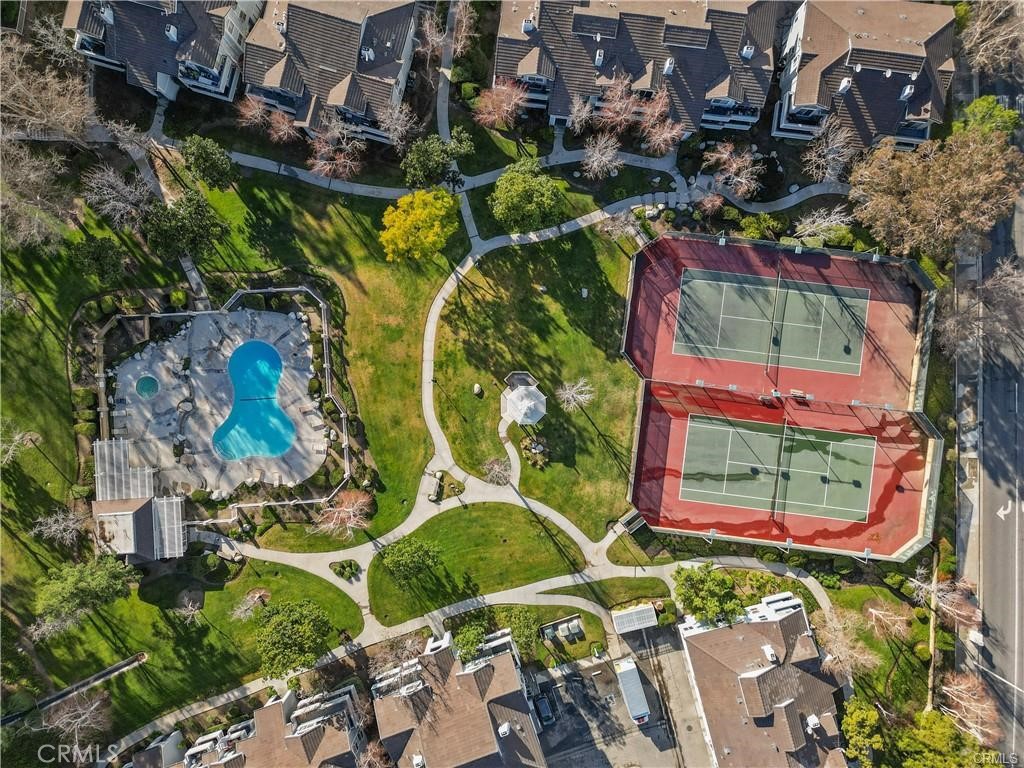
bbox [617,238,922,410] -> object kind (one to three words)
tennis court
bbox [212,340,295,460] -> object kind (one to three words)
swimming pool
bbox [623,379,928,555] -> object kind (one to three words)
tennis court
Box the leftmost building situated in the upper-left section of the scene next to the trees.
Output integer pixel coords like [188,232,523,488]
[63,0,244,111]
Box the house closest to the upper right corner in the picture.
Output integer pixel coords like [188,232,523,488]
[768,0,956,152]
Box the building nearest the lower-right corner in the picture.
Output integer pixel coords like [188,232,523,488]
[674,588,846,768]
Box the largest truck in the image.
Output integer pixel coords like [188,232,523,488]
[613,657,651,727]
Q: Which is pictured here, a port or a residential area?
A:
residential area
